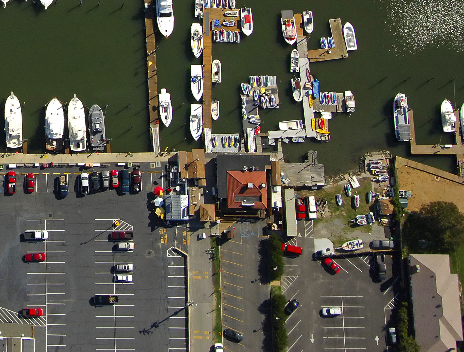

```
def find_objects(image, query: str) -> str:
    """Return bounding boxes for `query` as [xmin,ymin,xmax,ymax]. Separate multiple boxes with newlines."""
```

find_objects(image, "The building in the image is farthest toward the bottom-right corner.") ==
[406,254,463,352]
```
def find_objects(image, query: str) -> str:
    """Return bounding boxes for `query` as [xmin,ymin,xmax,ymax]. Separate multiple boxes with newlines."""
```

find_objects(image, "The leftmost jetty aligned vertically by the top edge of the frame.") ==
[144,0,161,128]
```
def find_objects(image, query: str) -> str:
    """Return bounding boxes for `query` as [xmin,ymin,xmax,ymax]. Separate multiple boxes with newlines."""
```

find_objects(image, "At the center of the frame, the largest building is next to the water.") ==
[214,155,271,220]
